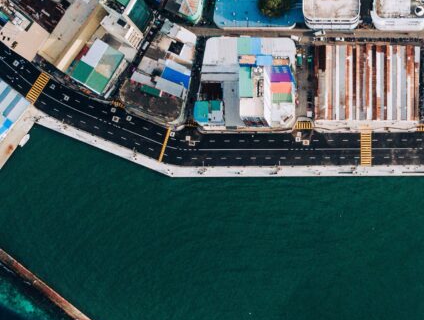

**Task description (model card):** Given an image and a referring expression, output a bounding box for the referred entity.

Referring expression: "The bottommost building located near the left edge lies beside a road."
[0,81,37,153]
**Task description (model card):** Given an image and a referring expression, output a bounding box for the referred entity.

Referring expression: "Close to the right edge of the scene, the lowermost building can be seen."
[315,43,419,121]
